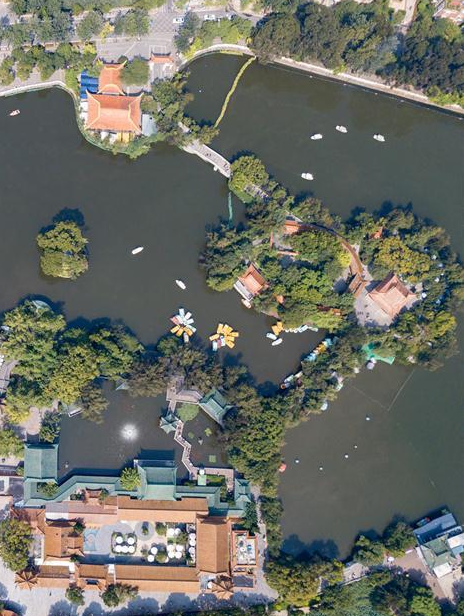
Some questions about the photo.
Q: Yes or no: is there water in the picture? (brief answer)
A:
Yes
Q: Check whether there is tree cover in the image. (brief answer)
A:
Yes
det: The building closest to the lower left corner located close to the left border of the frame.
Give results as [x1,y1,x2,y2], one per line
[14,567,37,593]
